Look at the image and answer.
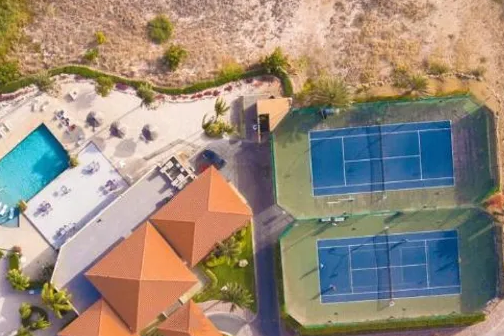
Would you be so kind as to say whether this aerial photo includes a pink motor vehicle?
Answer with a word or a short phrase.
No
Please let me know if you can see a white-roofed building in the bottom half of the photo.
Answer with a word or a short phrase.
No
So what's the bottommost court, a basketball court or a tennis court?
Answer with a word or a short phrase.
tennis court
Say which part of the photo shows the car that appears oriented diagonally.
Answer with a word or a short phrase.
center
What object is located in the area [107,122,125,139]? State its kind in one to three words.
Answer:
umbrella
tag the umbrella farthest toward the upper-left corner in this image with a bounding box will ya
[86,111,104,129]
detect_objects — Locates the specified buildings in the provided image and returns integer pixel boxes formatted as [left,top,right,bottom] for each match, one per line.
[255,98,290,144]
[50,154,252,336]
